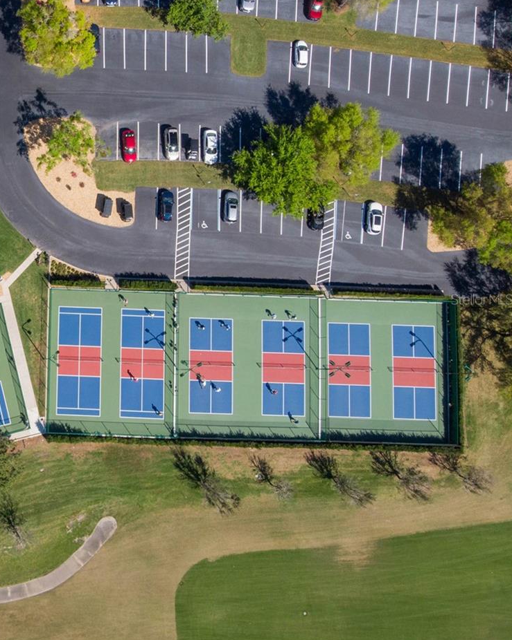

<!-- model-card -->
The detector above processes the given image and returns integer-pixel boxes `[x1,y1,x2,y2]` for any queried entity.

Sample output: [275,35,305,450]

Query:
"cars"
[87,25,102,57]
[158,190,174,223]
[365,202,384,235]
[103,0,116,6]
[163,126,180,160]
[202,130,219,163]
[121,130,137,162]
[239,0,254,12]
[307,0,324,19]
[293,41,310,69]
[222,190,239,224]
[307,204,325,236]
